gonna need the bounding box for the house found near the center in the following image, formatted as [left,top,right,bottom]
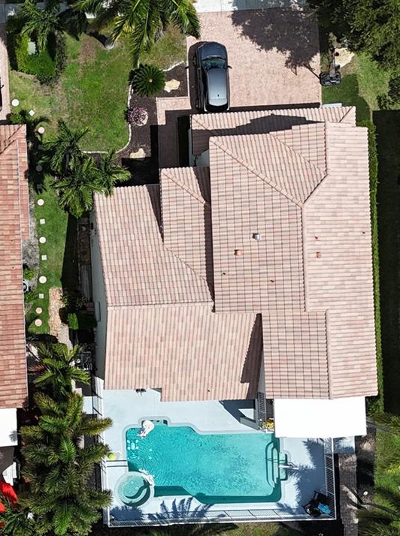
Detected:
[90,104,379,402]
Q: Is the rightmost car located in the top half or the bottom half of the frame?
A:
top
